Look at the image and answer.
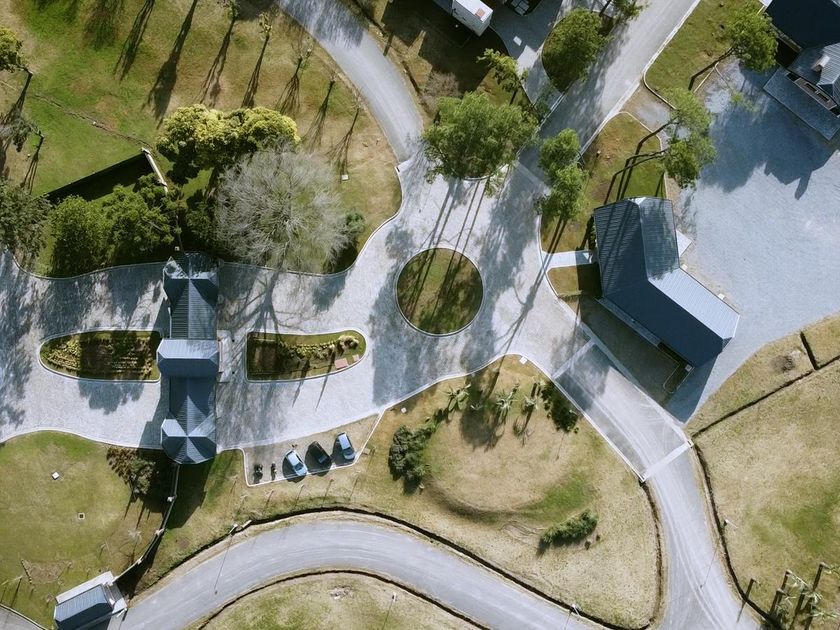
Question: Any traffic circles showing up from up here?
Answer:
Yes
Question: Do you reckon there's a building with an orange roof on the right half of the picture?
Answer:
No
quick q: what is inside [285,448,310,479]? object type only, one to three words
car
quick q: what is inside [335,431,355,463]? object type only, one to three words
car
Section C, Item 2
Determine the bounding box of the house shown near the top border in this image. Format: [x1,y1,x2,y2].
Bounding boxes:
[754,0,840,141]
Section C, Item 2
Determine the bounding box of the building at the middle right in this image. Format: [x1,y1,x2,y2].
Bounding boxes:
[589,194,743,372]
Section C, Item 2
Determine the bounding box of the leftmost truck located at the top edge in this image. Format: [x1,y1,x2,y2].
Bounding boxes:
[442,0,492,34]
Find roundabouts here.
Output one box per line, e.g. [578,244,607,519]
[395,247,484,335]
